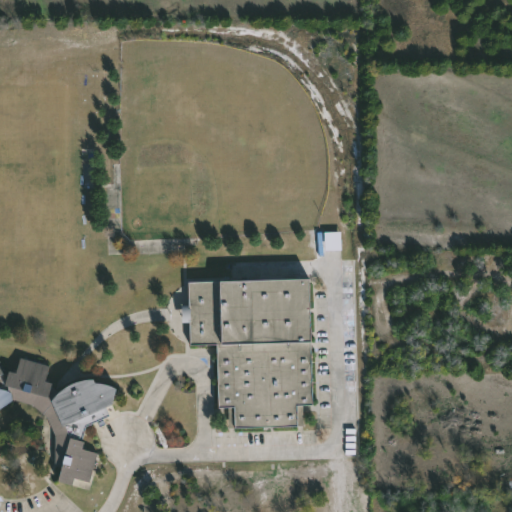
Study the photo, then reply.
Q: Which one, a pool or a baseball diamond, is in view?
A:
baseball diamond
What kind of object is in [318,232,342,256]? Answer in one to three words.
shed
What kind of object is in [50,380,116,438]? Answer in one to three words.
building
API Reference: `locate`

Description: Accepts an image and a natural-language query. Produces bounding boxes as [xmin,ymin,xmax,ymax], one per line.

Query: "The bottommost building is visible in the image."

[59,439,97,490]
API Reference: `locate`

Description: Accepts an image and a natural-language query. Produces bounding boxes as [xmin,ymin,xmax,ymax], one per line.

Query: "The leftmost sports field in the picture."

[0,82,67,324]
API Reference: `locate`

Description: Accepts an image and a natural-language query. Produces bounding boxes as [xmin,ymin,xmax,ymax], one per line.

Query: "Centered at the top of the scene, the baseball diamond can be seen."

[121,41,328,238]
